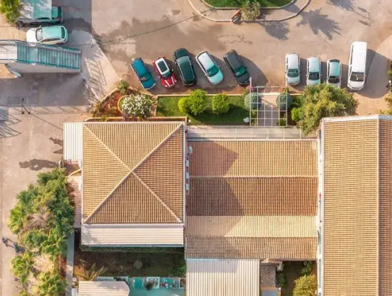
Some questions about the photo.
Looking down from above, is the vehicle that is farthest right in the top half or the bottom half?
top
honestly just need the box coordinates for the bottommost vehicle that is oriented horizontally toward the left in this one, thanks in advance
[26,24,69,44]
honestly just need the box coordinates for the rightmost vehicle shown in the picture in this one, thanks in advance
[348,38,369,90]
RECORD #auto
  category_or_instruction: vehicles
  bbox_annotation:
[285,53,302,86]
[131,58,155,90]
[223,49,249,86]
[174,49,195,87]
[155,56,175,89]
[26,24,69,44]
[195,50,223,87]
[20,7,63,27]
[306,58,323,80]
[348,38,369,90]
[326,60,341,87]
